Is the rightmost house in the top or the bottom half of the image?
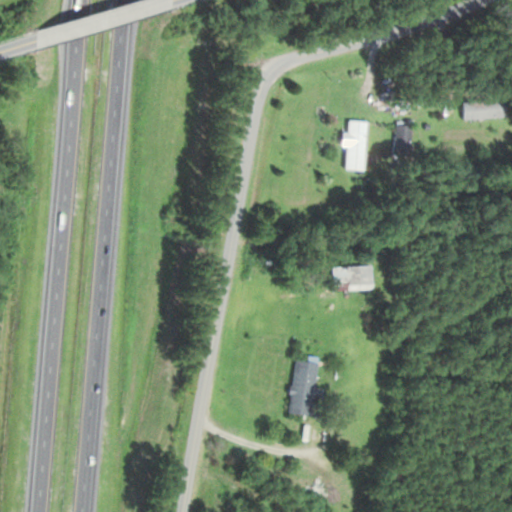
top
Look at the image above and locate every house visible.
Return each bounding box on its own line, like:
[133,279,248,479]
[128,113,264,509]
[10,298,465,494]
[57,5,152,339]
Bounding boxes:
[395,120,414,156]
[332,265,376,297]
[464,101,504,124]
[288,354,323,420]
[342,120,369,172]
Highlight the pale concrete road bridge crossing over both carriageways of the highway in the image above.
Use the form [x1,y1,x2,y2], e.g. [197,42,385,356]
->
[34,0,176,51]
